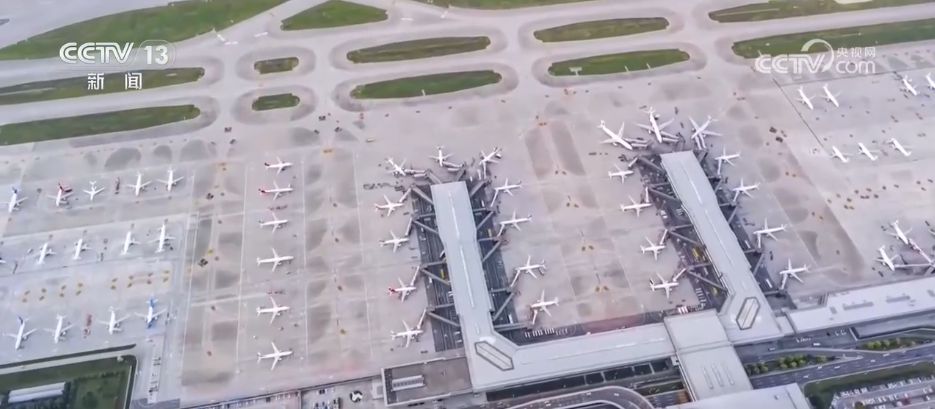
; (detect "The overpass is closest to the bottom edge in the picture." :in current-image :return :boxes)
[502,387,655,409]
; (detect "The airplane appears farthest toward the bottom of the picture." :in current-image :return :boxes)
[258,339,292,369]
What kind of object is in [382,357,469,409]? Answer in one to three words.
building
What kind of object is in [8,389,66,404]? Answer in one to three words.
shed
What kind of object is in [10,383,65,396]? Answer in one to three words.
shed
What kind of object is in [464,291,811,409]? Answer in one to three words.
building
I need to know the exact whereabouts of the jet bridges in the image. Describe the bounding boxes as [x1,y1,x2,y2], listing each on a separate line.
[763,273,787,297]
[410,260,451,286]
[646,182,678,203]
[629,154,666,173]
[489,271,520,320]
[405,213,439,236]
[416,302,461,330]
[443,161,467,182]
[478,223,505,261]
[659,225,699,246]
[674,263,725,289]
[708,159,722,193]
[625,138,665,154]
[660,131,682,152]
[743,233,762,272]
[473,189,498,230]
[496,309,537,331]
[405,169,442,184]
[720,190,739,223]
[695,133,707,163]
[400,184,434,204]
[470,162,489,197]
[894,238,935,278]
